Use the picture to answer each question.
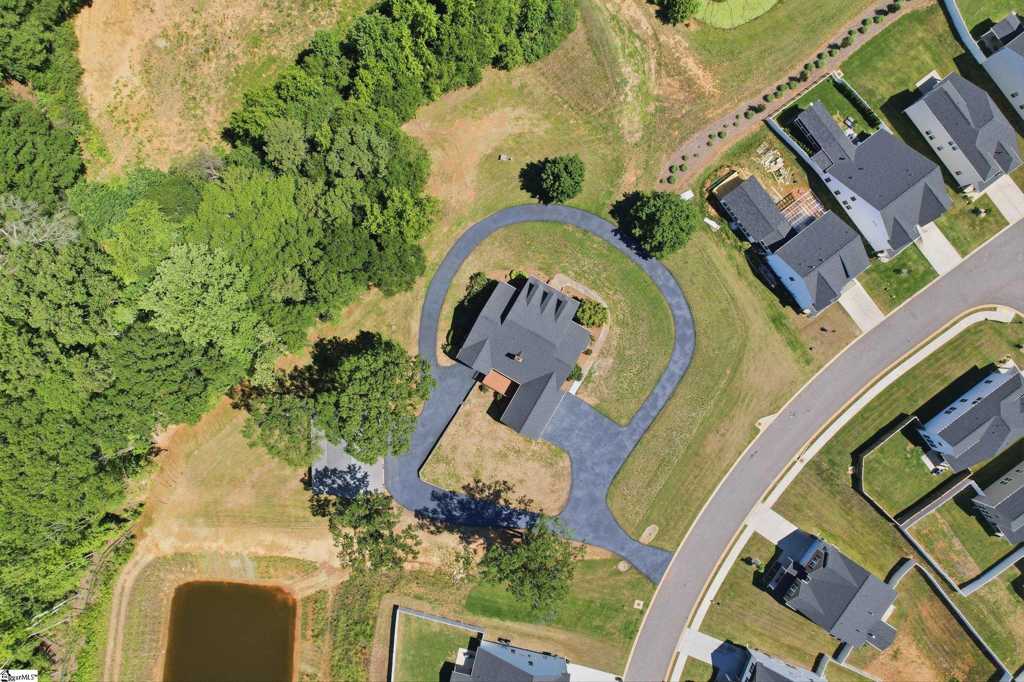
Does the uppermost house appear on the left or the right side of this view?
right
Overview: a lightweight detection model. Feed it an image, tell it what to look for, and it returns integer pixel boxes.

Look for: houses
[794,100,953,259]
[983,11,1024,108]
[906,71,1024,192]
[449,642,570,682]
[728,648,819,682]
[974,463,1024,549]
[719,176,871,317]
[921,366,1024,474]
[456,275,592,441]
[777,539,900,653]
